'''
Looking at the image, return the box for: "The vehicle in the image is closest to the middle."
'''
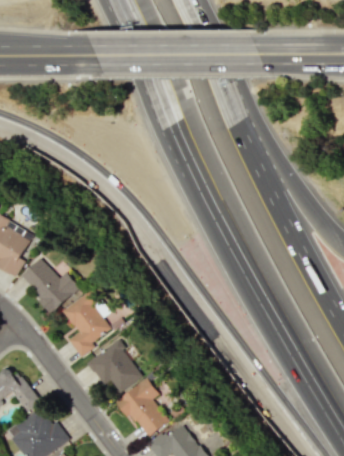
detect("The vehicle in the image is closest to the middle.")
[108,175,124,190]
